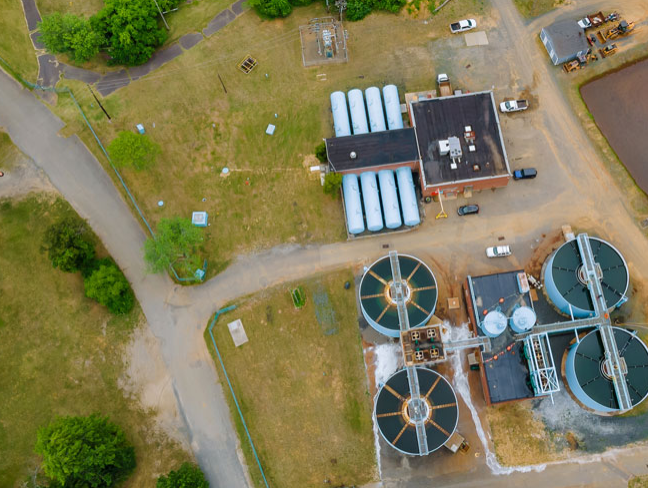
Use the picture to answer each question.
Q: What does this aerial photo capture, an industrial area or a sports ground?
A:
industrial area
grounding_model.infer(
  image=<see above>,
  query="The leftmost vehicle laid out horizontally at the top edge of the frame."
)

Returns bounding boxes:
[449,19,477,33]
